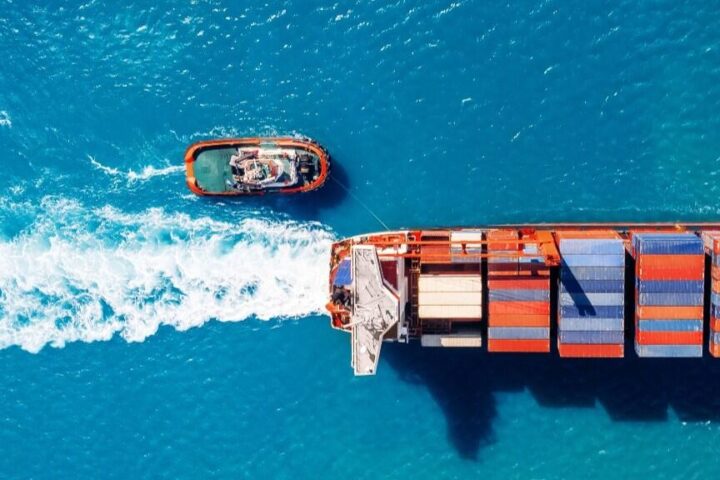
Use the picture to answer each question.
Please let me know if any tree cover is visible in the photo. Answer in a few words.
No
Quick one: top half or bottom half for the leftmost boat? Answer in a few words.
top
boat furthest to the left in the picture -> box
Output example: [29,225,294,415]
[186,136,333,197]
